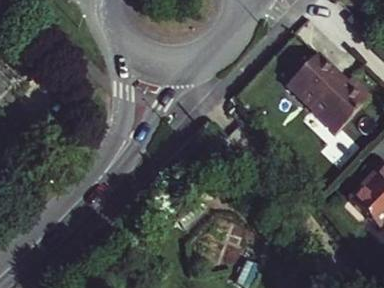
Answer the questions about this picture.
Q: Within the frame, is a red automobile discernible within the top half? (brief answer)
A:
No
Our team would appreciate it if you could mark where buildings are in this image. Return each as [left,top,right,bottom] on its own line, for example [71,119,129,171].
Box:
[236,260,256,288]
[355,166,384,226]
[288,52,378,132]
